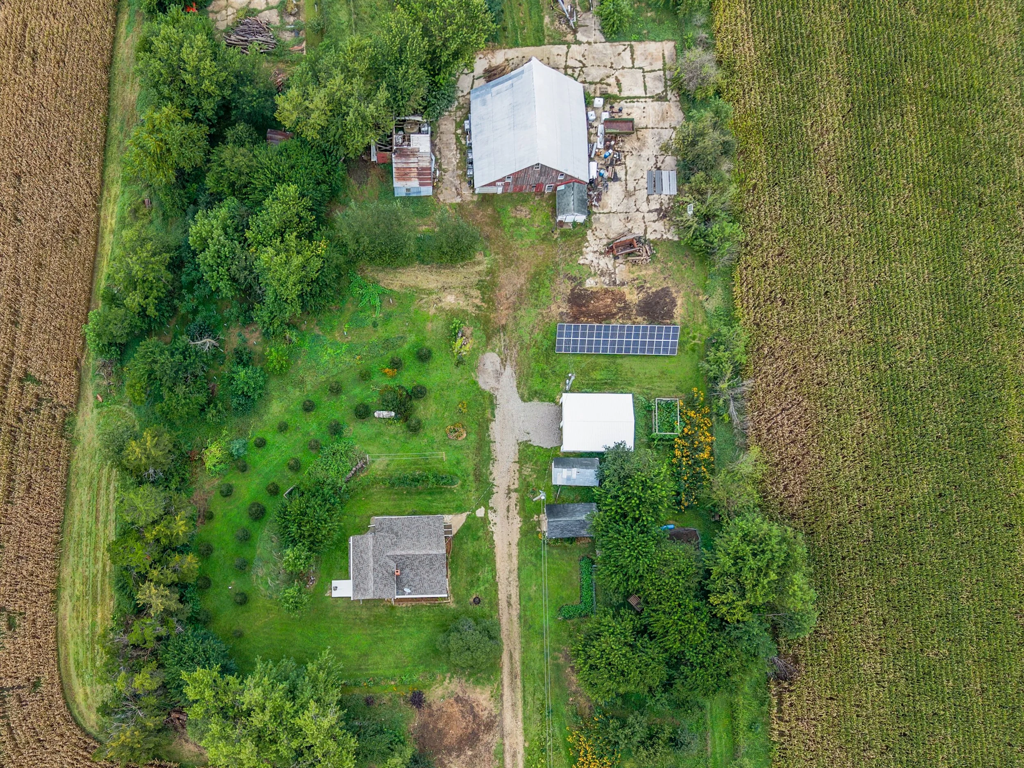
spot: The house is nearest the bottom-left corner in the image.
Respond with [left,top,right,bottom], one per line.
[332,515,452,604]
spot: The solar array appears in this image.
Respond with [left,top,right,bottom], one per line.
[556,324,679,355]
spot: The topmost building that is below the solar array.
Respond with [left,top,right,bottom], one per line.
[562,393,635,451]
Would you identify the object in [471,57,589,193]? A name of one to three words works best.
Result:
barn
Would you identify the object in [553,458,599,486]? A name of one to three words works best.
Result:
shed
